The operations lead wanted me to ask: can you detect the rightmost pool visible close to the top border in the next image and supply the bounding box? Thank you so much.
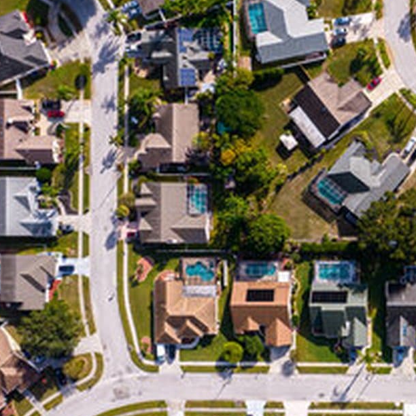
[241,0,268,38]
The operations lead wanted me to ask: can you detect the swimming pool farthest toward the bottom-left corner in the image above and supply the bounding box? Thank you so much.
[180,258,218,280]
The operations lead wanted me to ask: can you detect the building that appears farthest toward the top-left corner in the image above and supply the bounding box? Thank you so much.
[0,11,53,93]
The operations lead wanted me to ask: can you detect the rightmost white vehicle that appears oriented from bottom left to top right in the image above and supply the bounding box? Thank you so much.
[401,137,416,157]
